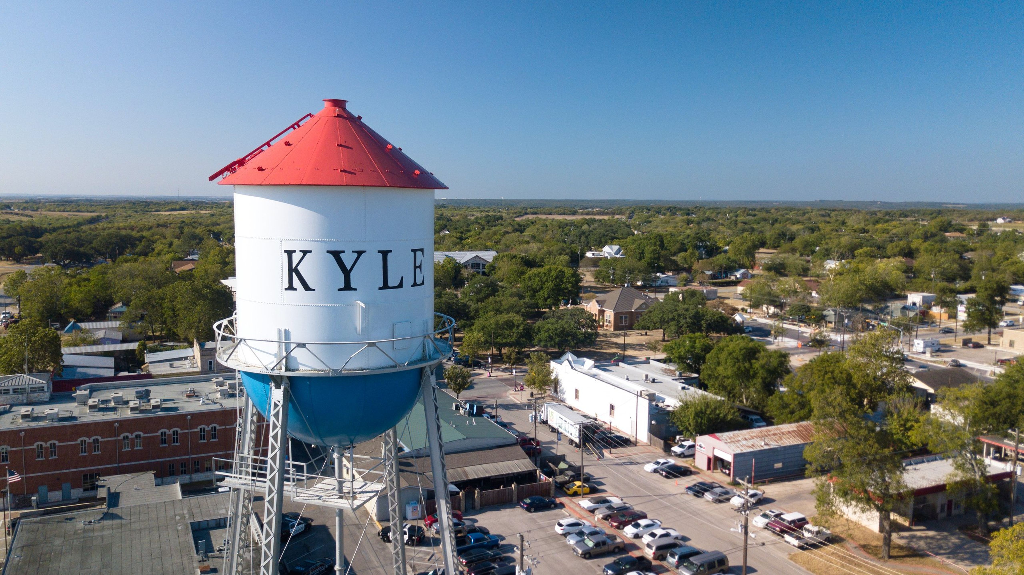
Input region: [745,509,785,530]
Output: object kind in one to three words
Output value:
car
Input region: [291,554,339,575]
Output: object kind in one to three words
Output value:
car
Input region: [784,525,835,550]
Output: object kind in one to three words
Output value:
truck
